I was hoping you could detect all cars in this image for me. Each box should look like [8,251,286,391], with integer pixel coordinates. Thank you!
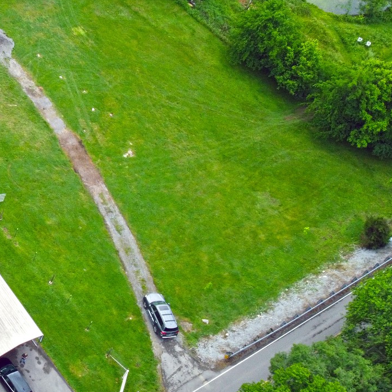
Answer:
[0,354,33,392]
[141,292,179,340]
